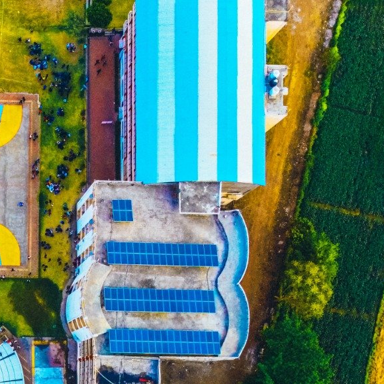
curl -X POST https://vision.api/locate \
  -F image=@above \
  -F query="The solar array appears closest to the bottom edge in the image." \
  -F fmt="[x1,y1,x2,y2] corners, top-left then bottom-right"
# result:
[109,328,220,354]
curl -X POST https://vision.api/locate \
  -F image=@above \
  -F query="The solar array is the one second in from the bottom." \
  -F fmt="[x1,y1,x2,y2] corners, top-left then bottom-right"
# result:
[104,288,215,313]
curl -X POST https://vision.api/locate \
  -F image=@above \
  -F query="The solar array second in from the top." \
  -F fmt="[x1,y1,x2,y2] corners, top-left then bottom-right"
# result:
[107,241,218,266]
